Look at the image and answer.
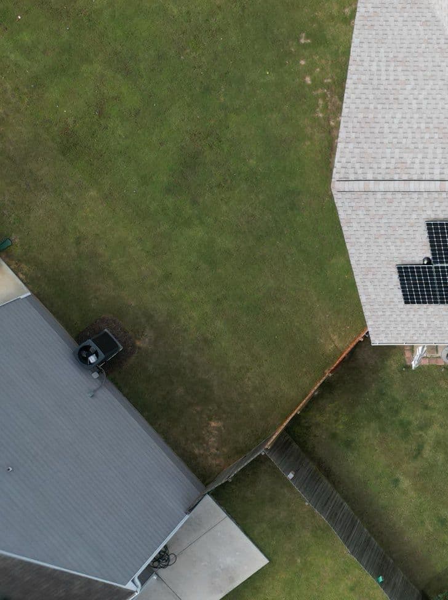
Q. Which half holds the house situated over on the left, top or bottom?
bottom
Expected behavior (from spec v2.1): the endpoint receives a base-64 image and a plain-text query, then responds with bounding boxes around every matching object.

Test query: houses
[0,293,210,600]
[331,0,448,350]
